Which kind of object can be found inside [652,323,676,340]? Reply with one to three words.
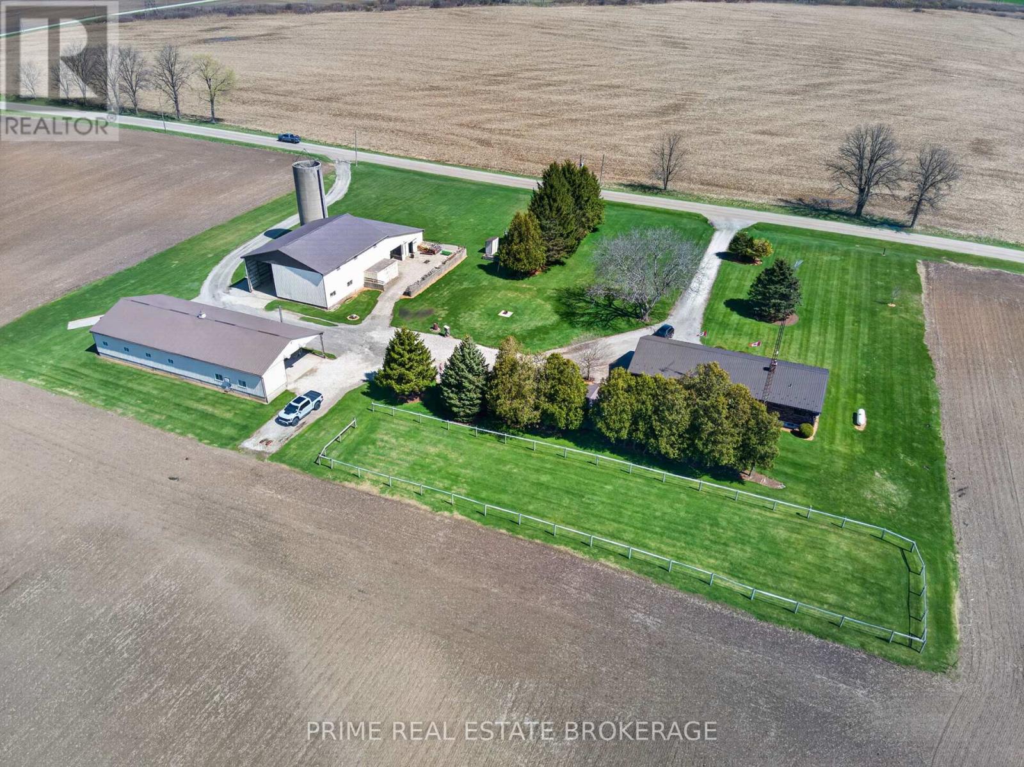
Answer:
car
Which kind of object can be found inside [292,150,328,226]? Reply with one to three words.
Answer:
silo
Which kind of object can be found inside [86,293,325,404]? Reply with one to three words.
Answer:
shed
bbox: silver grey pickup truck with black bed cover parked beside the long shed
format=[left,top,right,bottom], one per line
[274,391,323,427]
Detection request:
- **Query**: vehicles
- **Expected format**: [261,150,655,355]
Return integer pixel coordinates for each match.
[652,323,676,340]
[274,391,323,427]
[275,131,300,142]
